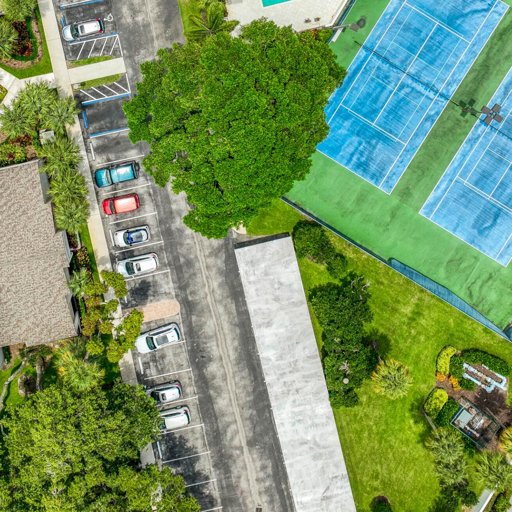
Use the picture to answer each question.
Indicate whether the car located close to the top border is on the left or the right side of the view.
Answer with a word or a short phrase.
left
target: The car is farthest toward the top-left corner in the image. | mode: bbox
[63,18,107,42]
